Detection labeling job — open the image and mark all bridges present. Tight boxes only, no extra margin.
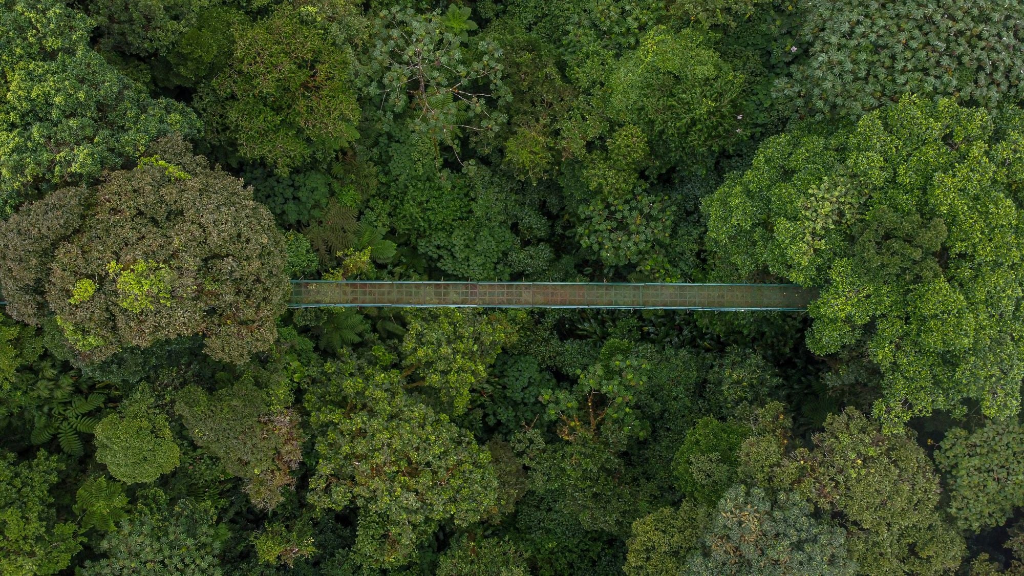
[0,274,1004,317]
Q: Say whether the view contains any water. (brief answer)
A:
No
